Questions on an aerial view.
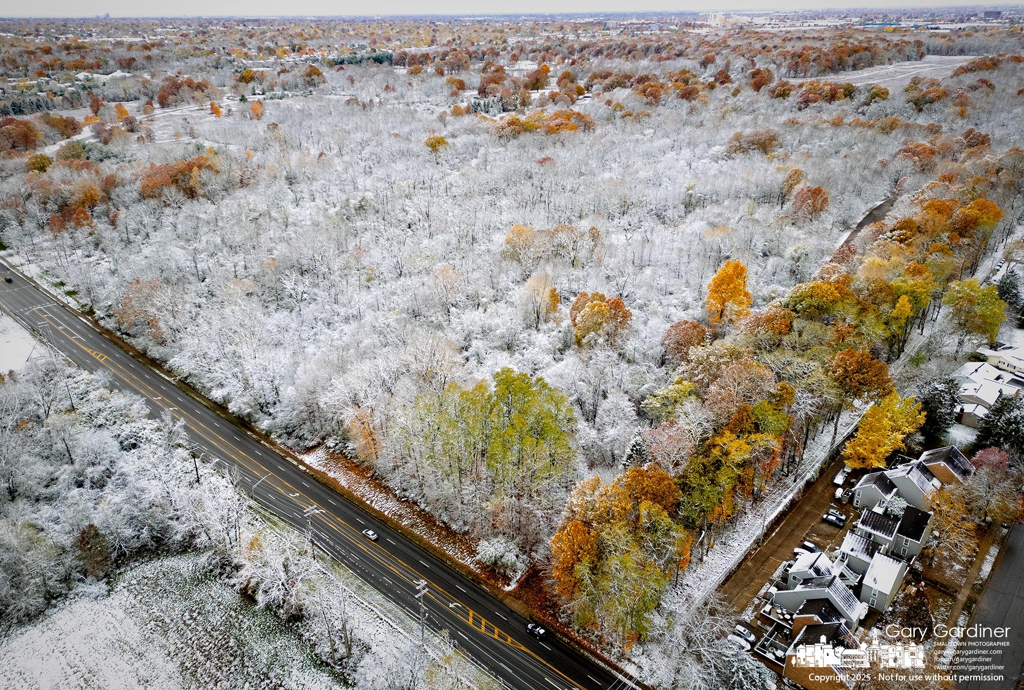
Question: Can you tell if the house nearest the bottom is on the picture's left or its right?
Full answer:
The house nearest the bottom is on the right side of the image.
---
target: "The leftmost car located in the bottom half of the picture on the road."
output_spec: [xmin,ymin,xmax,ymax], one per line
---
[361,526,378,538]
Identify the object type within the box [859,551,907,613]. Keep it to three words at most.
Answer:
house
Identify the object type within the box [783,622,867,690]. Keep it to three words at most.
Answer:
house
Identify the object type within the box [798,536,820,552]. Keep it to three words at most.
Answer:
car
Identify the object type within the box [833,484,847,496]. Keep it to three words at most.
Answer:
vehicle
